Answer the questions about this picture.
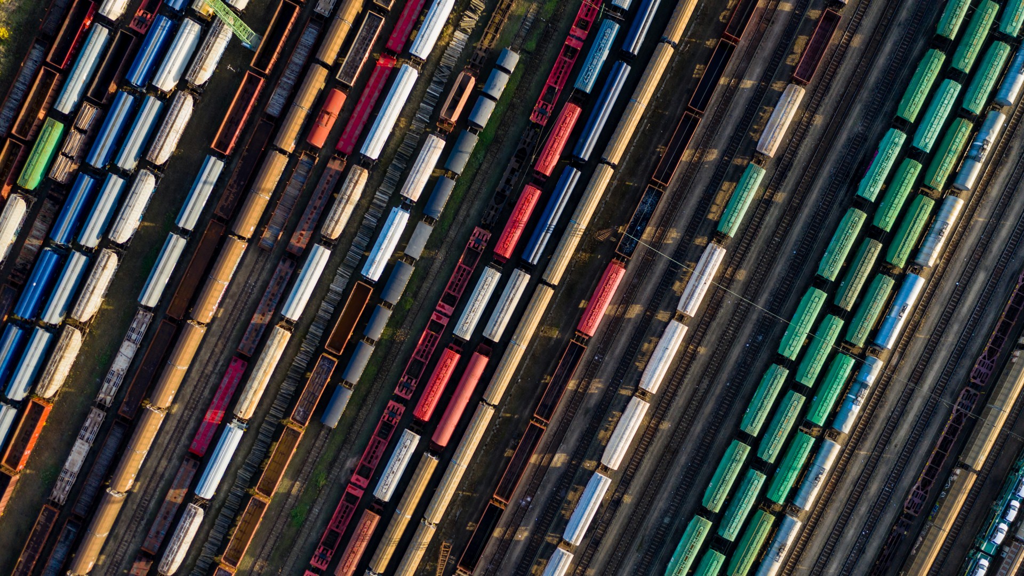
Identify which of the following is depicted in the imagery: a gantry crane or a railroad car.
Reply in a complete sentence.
The image shows a railroad car.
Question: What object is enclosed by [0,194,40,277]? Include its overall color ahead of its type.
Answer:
white rail car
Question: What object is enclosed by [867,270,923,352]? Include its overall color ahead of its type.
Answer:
blue rail car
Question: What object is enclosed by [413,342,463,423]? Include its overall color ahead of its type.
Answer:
red rail car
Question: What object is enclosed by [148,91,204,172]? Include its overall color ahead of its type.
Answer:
white rail car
